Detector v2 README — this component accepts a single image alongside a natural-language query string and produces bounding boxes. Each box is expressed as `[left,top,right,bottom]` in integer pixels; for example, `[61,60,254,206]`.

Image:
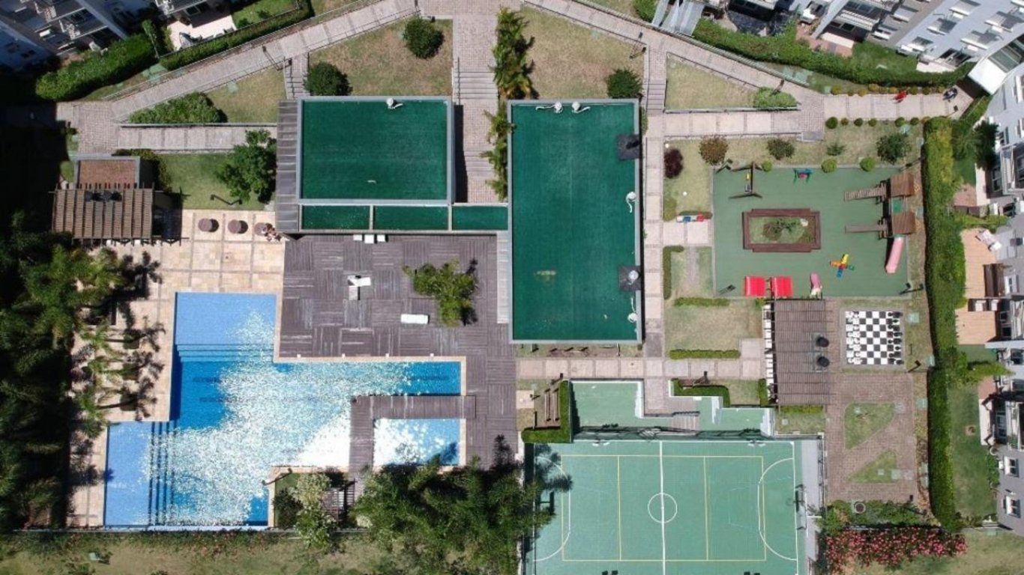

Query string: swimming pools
[78,293,465,531]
